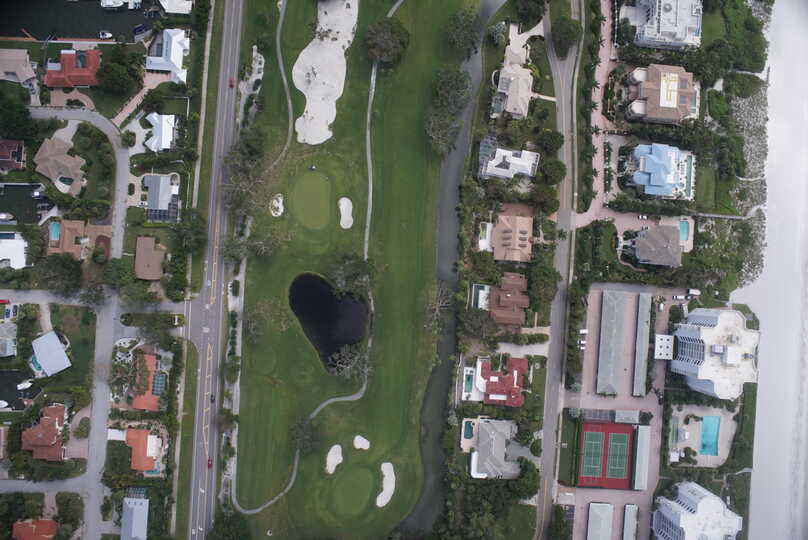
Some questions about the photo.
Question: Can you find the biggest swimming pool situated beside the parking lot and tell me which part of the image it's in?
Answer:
bottom right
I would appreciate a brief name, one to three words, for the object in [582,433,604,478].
tennis court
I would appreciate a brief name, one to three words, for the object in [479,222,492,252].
swimming pool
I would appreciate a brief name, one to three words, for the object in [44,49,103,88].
house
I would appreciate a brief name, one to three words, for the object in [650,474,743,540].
building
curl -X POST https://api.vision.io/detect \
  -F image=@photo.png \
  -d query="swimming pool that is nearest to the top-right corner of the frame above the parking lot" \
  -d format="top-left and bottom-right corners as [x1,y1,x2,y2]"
[680,81,700,122]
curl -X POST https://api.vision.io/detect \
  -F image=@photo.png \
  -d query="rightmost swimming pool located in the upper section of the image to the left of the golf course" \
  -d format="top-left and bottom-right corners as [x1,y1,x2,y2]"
[148,33,163,57]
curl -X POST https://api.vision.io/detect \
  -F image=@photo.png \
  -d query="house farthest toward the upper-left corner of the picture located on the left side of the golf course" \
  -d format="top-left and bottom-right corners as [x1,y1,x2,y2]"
[0,49,38,82]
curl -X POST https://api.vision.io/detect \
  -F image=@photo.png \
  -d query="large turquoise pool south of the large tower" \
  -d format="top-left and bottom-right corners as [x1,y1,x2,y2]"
[669,405,737,467]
